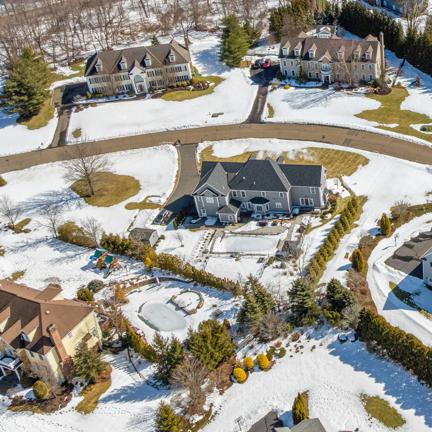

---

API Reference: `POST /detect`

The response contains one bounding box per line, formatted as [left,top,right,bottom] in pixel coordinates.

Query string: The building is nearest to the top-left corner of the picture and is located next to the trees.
[85,31,195,93]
